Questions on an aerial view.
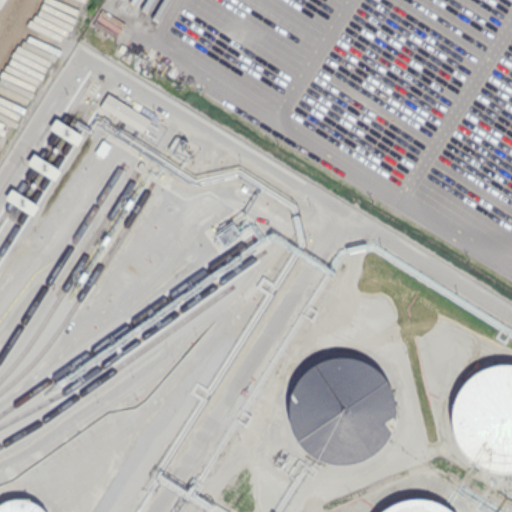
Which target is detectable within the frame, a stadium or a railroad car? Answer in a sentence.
I can see a railroad car in this picture.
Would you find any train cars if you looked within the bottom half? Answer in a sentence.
Yes, there is a train car within the bottom half.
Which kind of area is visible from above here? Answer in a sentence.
What you see here is an industrial area.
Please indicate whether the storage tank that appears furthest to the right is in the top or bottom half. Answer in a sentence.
You can find the storage tank that appears furthest to the right in the bottom half.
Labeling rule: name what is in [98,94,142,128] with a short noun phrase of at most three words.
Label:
building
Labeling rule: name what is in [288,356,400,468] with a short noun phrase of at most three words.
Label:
storage tank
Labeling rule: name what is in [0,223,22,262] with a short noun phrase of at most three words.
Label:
rail car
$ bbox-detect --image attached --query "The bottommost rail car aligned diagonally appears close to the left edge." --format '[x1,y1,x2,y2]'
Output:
[2,420,42,446]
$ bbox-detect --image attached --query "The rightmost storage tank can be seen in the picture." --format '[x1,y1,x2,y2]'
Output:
[450,362,512,478]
